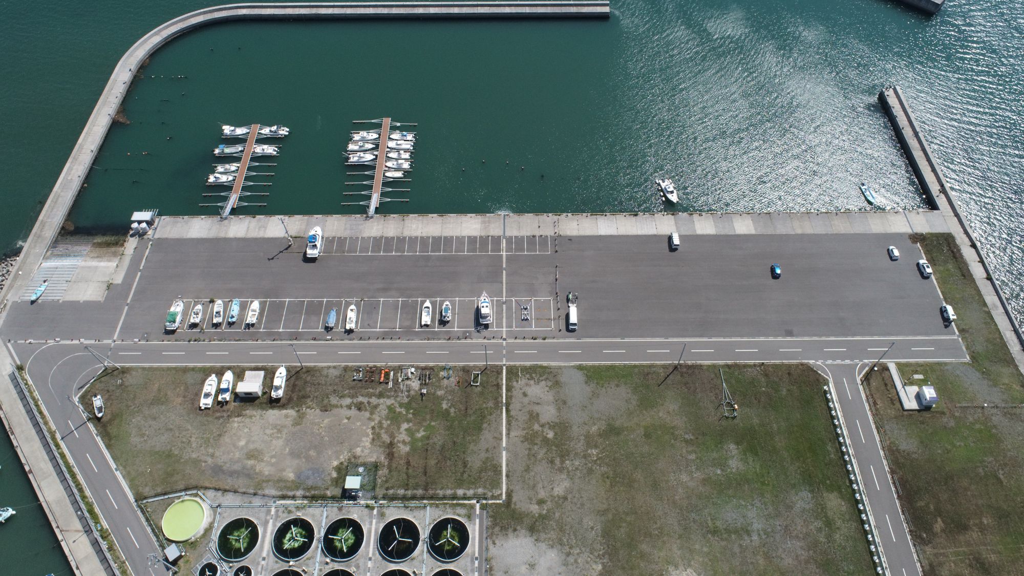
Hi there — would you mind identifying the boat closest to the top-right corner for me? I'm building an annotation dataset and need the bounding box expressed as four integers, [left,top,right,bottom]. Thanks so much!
[860,183,874,202]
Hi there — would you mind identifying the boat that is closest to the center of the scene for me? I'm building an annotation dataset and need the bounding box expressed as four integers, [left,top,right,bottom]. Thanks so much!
[479,292,492,327]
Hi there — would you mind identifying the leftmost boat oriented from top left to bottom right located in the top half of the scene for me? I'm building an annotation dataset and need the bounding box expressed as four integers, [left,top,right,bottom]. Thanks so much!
[658,179,678,203]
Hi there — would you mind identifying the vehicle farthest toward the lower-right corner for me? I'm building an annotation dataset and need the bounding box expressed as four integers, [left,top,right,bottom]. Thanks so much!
[942,306,957,322]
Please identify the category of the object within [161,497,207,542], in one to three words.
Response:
storage tank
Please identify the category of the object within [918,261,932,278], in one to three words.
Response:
car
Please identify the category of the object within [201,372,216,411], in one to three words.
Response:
boat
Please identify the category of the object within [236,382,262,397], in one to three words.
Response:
shed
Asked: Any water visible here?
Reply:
Yes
